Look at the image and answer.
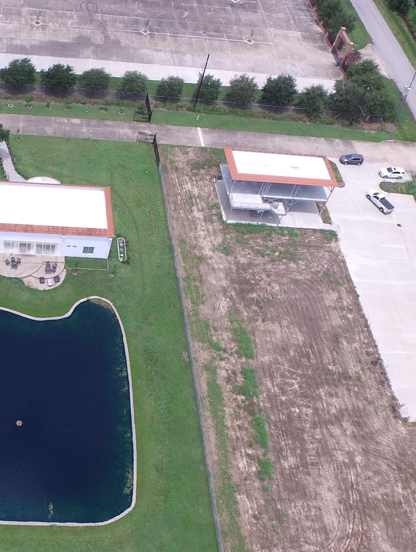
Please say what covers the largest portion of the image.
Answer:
paved ground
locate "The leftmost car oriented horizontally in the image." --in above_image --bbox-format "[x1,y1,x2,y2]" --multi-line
[338,151,368,165]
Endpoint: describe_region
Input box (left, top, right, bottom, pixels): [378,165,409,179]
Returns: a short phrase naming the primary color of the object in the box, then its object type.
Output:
white car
